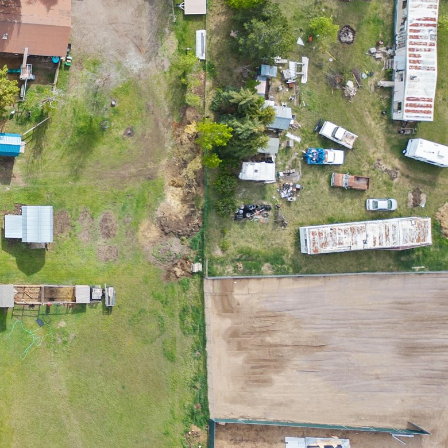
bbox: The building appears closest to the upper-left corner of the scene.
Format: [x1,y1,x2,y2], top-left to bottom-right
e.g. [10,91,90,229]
[0,0,71,59]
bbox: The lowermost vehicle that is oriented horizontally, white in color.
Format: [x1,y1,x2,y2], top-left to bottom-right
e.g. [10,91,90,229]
[364,196,397,213]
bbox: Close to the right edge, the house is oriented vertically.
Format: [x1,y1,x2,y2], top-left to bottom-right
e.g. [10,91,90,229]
[370,0,438,136]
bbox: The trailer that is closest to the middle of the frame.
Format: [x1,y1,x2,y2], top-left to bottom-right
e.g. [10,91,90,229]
[233,164,273,183]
